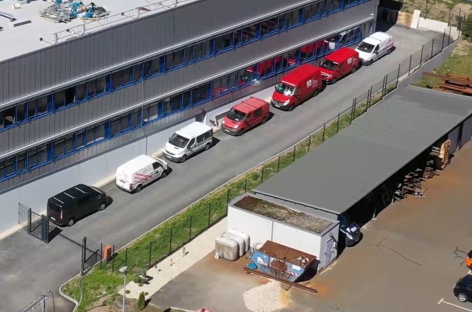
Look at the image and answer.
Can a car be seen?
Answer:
Yes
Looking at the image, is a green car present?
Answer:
No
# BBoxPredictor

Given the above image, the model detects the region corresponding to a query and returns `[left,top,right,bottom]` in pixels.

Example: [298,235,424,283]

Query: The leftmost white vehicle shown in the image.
[114,155,172,194]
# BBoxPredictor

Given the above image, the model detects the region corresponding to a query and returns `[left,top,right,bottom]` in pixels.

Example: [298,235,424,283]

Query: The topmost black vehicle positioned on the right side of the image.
[338,214,365,251]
